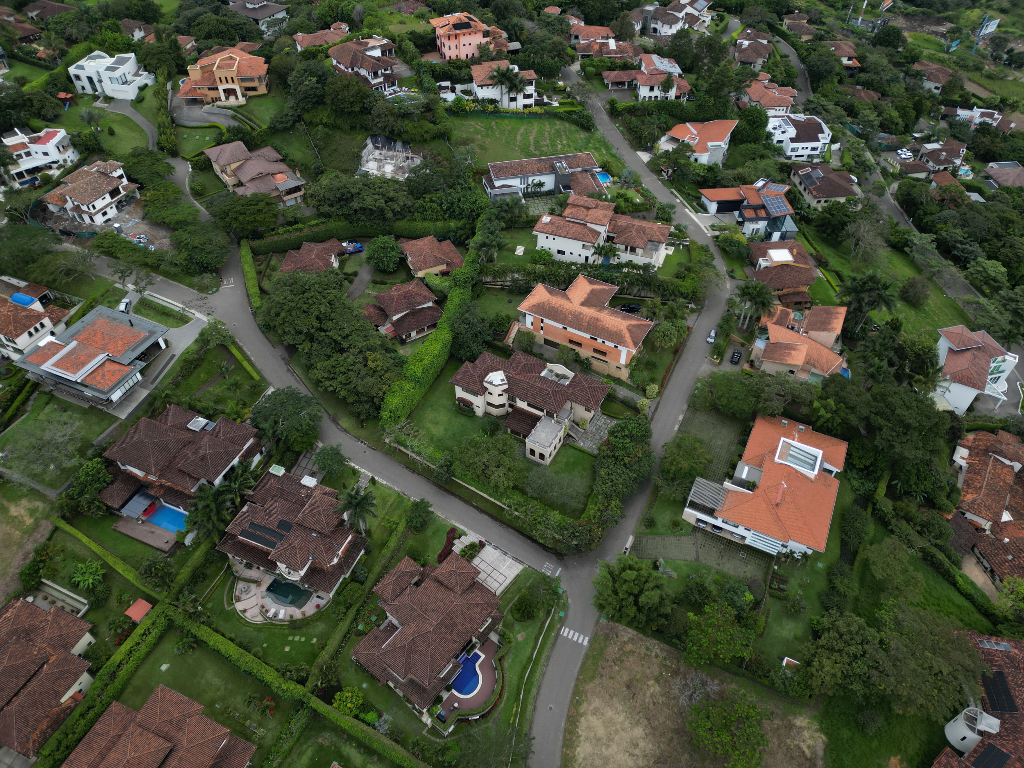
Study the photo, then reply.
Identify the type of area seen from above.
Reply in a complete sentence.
The picture captures a residential area.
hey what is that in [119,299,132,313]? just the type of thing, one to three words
vehicle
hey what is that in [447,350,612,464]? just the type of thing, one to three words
house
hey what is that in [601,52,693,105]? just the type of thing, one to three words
house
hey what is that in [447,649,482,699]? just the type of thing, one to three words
swimming pool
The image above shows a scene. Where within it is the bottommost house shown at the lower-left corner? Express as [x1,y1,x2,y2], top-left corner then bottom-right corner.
[58,683,259,768]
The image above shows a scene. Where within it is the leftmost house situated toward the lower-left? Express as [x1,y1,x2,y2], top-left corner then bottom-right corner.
[0,597,100,762]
